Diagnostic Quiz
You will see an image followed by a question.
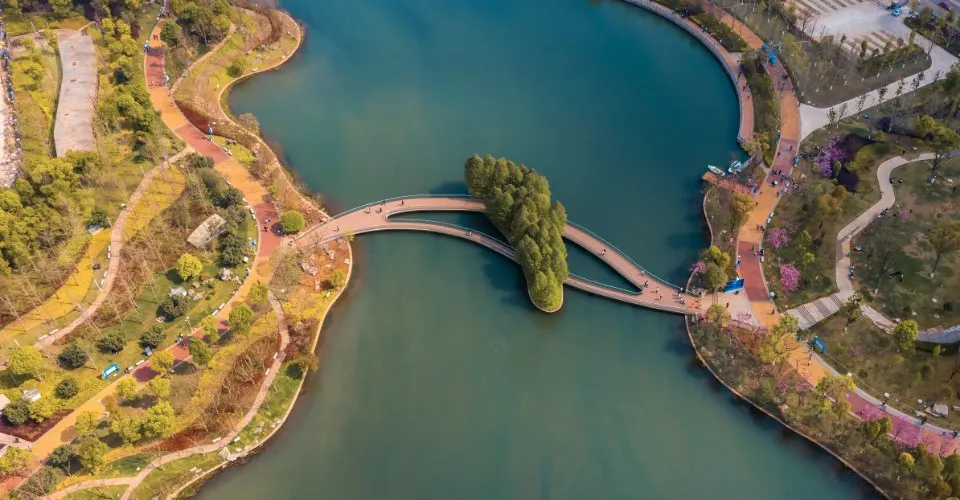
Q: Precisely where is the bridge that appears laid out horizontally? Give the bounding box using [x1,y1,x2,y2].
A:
[295,194,701,318]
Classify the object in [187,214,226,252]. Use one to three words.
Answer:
building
